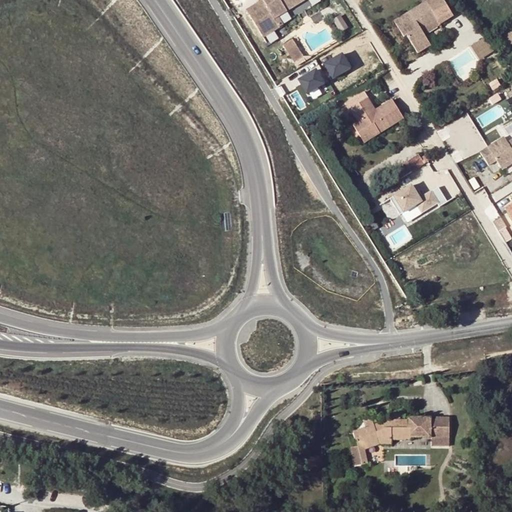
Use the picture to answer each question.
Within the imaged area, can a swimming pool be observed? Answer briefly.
Yes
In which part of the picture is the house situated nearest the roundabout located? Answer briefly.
bottom right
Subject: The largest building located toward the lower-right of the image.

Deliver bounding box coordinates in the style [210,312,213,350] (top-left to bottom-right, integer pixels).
[350,416,450,467]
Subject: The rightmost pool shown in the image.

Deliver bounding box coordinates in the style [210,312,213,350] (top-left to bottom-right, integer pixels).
[475,104,505,129]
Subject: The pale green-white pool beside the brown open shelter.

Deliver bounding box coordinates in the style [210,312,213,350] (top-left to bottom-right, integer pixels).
[450,48,477,74]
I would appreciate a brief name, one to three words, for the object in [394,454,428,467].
swimming pool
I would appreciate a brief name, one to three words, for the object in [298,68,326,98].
house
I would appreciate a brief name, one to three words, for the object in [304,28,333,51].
swimming pool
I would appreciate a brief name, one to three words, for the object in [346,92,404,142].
house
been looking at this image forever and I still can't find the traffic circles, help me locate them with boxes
[216,294,318,398]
